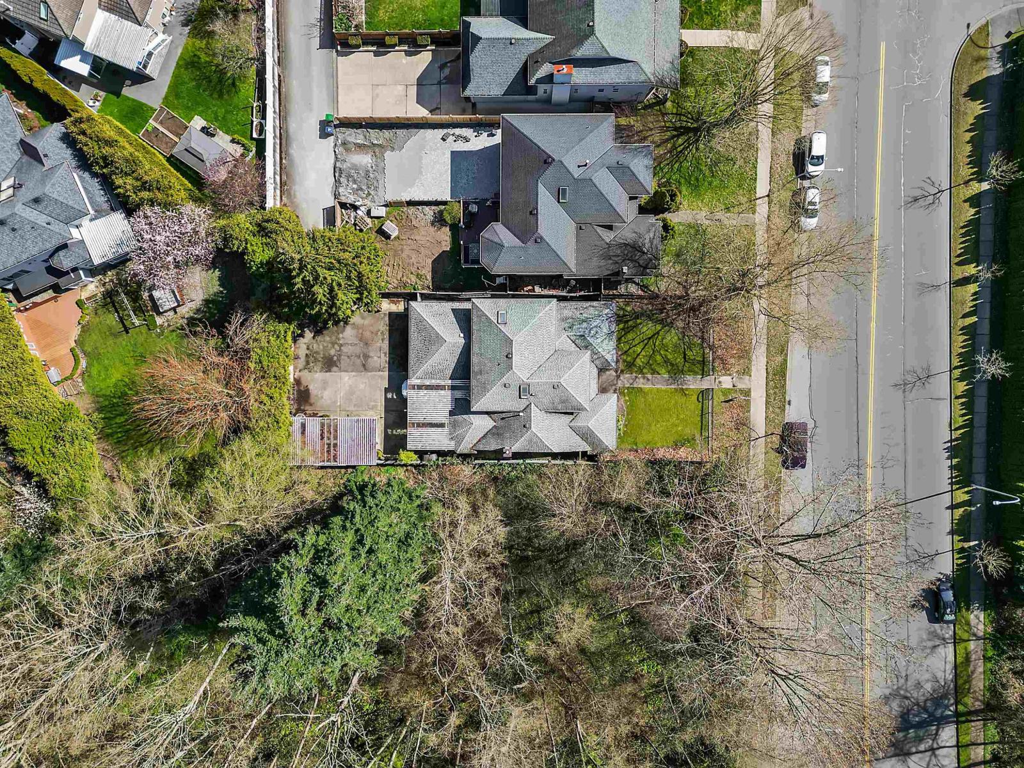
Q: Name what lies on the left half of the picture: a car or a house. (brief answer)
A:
house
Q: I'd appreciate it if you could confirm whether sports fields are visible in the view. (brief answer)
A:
No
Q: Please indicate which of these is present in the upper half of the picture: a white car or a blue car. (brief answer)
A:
white car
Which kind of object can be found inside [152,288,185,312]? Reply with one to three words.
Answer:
shed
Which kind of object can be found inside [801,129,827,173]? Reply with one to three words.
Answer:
car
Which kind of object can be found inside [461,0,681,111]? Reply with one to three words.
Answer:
house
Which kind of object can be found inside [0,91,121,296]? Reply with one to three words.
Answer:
house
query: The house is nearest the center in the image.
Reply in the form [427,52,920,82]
[408,297,618,457]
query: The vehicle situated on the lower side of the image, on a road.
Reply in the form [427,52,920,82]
[930,583,957,624]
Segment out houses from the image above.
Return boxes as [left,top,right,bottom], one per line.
[478,113,663,278]
[408,297,618,457]
[0,0,183,58]
[0,91,121,296]
[461,0,681,111]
